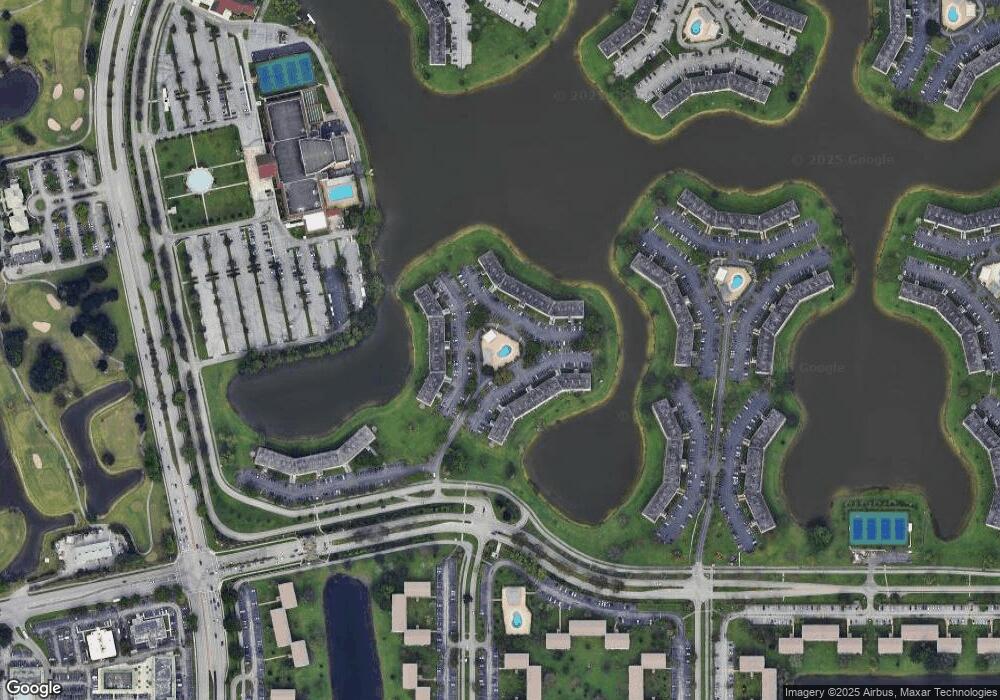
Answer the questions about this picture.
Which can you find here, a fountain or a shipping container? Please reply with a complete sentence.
The one in the frame is a fountain.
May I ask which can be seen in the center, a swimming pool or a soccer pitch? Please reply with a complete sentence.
Visible in the center is a swimming pool.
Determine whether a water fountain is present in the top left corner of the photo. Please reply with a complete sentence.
Yes, there is a water fountain in the top left corner of the photo.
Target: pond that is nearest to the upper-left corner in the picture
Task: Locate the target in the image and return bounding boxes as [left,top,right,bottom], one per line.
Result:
[0,68,39,121]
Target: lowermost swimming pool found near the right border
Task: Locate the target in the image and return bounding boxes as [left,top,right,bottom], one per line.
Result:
[979,264,1000,301]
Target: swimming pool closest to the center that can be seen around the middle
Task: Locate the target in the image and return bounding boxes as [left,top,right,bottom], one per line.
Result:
[482,329,520,370]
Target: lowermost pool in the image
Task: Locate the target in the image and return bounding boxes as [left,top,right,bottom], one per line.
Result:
[502,587,531,635]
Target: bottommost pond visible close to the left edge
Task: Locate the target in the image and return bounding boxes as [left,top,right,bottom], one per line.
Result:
[0,415,77,583]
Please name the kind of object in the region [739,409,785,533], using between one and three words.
building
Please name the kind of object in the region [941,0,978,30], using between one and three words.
swimming pool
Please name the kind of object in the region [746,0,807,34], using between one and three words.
building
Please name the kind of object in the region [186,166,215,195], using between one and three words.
fountain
